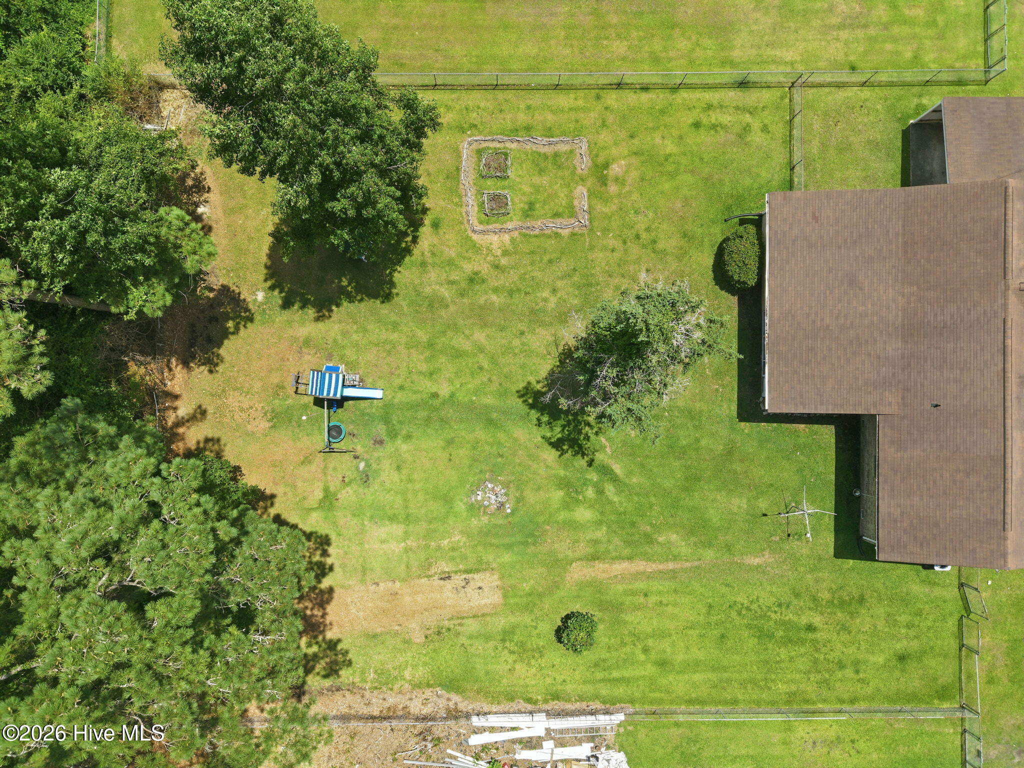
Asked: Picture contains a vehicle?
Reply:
No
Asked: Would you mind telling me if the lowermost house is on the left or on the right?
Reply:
right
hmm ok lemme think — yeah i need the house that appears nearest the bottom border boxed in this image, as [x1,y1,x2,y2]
[752,179,1024,569]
